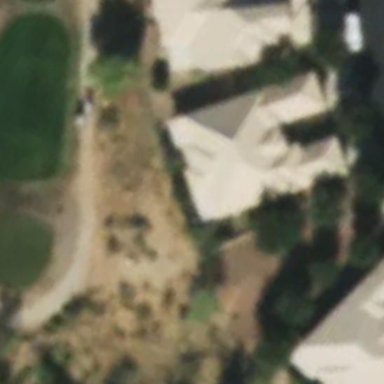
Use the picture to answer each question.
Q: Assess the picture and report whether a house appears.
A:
Yes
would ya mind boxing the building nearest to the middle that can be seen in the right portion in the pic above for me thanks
[167,74,349,224]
